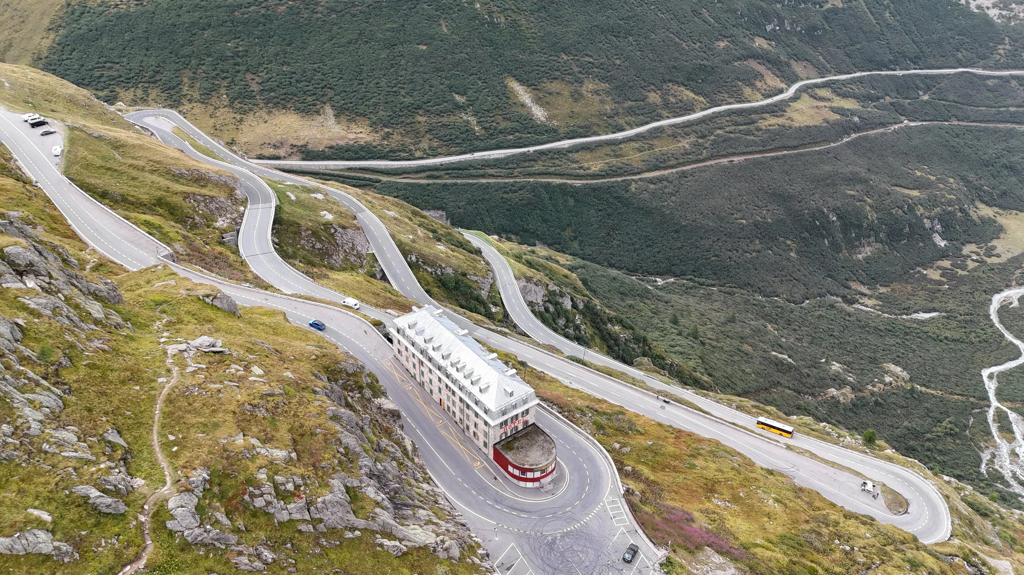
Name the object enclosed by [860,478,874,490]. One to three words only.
vehicle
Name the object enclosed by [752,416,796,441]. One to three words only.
bus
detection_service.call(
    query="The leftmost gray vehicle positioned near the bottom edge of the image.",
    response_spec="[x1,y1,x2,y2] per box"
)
[622,541,640,563]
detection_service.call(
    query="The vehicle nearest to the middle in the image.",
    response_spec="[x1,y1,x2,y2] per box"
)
[344,297,362,310]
